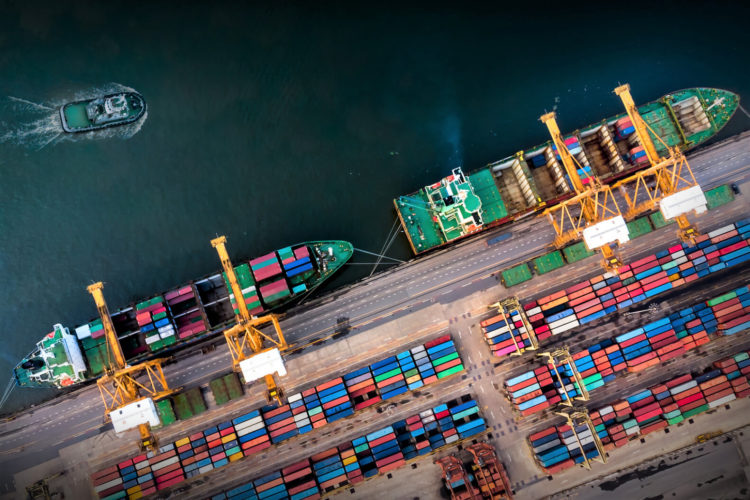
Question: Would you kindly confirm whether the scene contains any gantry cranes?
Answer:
Yes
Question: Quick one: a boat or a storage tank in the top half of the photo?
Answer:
boat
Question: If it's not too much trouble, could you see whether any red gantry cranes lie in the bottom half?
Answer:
Yes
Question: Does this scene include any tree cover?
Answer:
No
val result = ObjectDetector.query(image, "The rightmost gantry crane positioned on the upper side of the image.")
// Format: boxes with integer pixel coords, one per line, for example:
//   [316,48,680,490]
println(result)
[612,83,709,245]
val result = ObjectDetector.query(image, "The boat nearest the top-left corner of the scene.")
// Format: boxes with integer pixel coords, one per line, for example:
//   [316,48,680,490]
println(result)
[61,94,146,132]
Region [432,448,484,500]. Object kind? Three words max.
container crane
